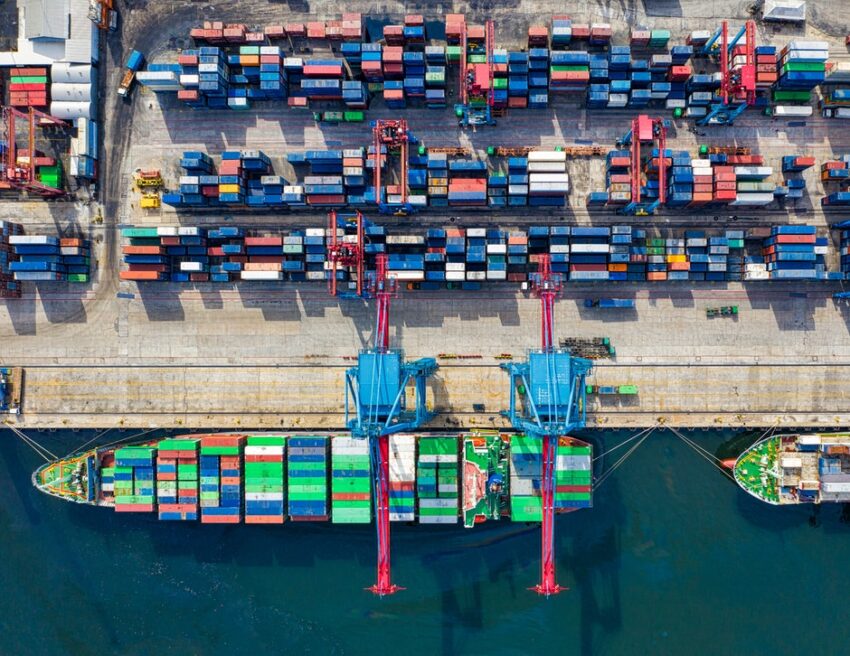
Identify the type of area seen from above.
port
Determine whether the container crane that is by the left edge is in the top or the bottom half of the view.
top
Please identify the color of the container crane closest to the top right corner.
red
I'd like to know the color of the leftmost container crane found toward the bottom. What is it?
blue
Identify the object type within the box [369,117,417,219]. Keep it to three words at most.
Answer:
container crane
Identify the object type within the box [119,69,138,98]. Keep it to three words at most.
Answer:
vehicle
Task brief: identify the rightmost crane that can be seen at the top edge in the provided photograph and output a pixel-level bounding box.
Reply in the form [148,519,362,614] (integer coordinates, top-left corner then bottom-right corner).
[695,18,758,129]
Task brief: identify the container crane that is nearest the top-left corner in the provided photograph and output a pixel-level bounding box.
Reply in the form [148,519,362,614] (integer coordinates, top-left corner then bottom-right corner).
[11,104,86,200]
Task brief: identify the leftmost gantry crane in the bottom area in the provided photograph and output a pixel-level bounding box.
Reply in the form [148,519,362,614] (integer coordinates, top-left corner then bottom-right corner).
[344,255,438,599]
